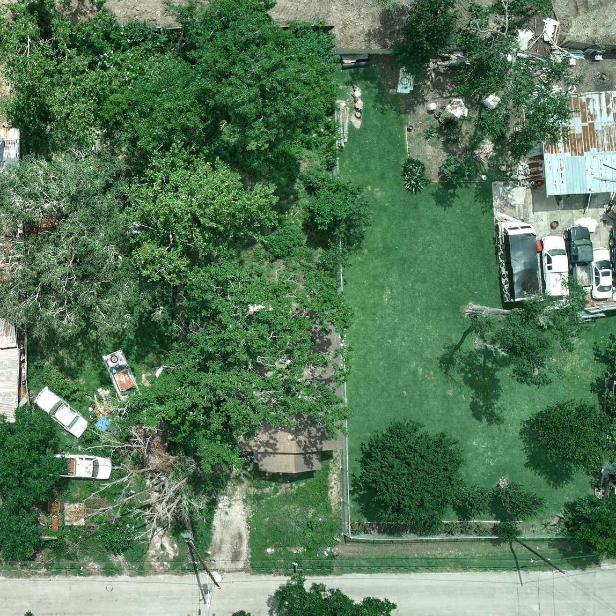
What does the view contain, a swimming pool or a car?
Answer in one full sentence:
Looking from above, you can make out a car.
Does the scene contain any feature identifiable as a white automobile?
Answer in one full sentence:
Yes, there's a white automobile here.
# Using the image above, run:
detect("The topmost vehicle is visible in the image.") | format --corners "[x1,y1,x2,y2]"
[598,194,616,237]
